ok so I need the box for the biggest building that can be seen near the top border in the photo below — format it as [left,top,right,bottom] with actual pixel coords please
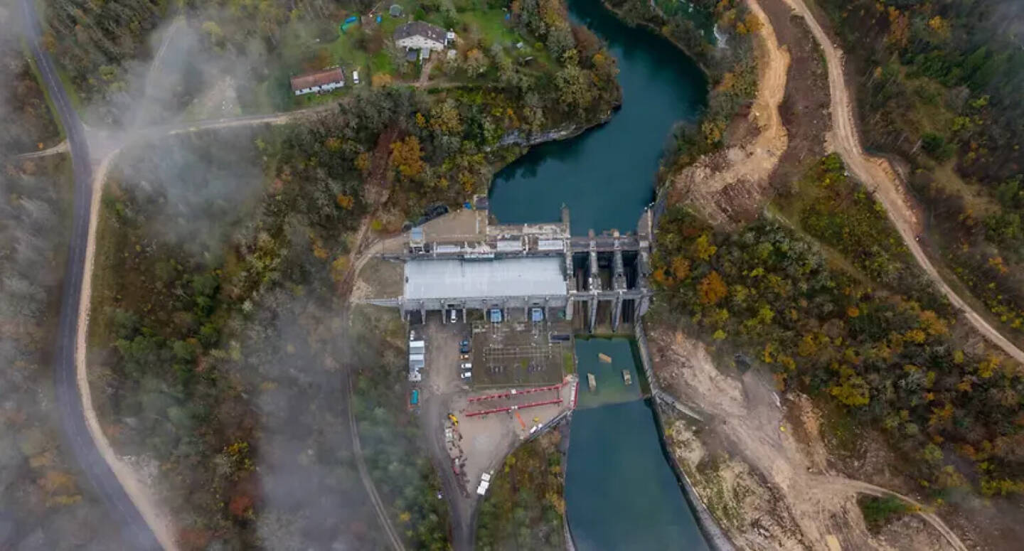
[394,20,447,62]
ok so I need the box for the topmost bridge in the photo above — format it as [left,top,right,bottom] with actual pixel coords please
[573,228,639,251]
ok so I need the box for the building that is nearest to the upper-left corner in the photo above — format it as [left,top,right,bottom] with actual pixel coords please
[291,69,344,96]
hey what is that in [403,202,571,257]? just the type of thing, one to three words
dam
